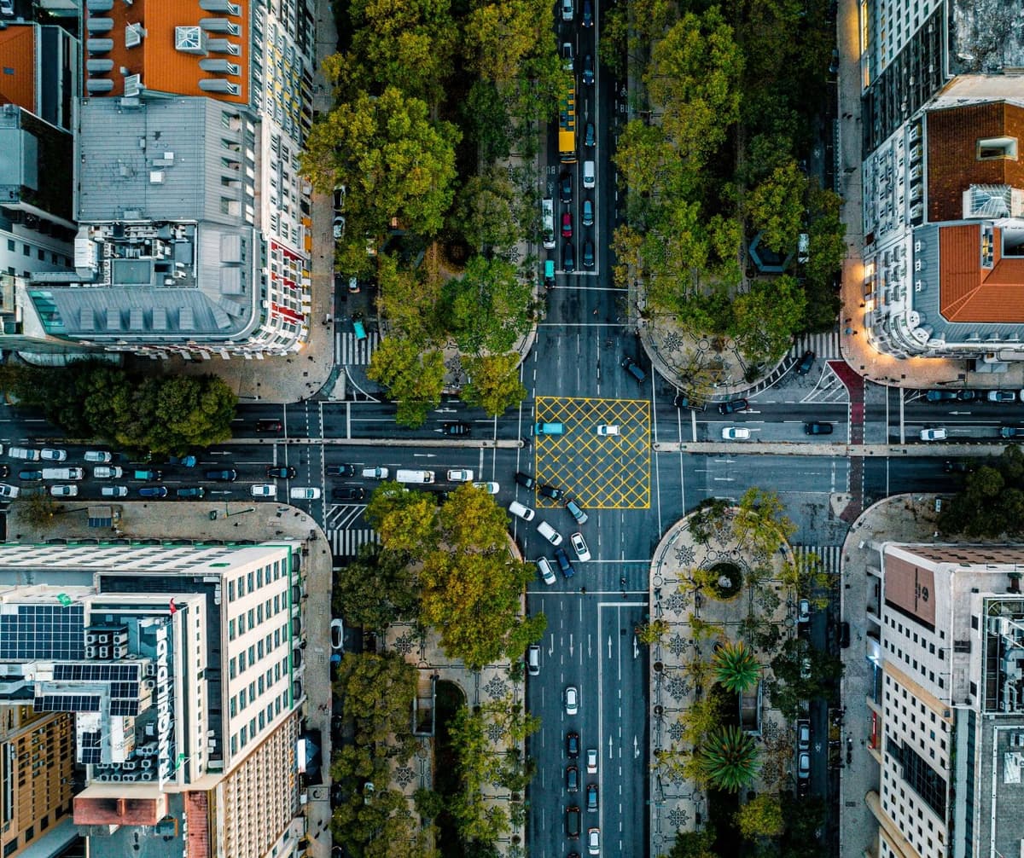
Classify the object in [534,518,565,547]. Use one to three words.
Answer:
van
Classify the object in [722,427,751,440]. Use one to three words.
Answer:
vehicle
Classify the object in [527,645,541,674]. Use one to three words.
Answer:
vehicle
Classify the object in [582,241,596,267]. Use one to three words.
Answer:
car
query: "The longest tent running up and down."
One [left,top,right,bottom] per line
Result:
[301,724,327,781]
